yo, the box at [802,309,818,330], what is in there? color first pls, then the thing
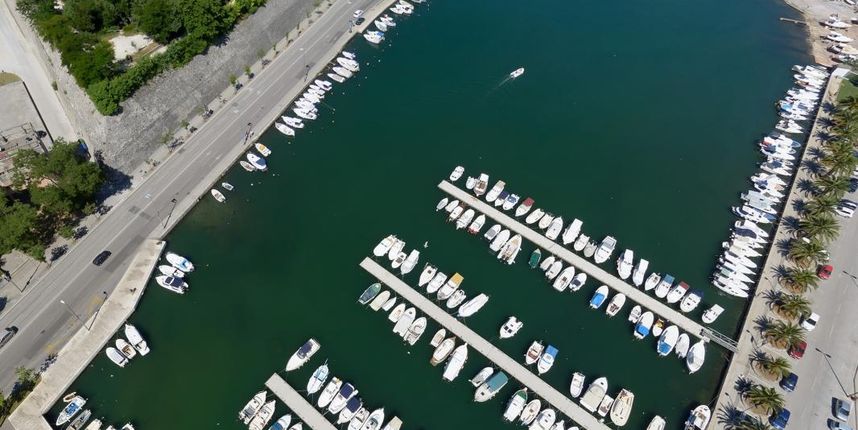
white car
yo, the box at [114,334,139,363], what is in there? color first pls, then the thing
white boat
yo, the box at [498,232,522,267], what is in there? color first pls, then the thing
white boat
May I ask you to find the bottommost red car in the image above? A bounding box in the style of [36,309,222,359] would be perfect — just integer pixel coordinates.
[793,338,809,361]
